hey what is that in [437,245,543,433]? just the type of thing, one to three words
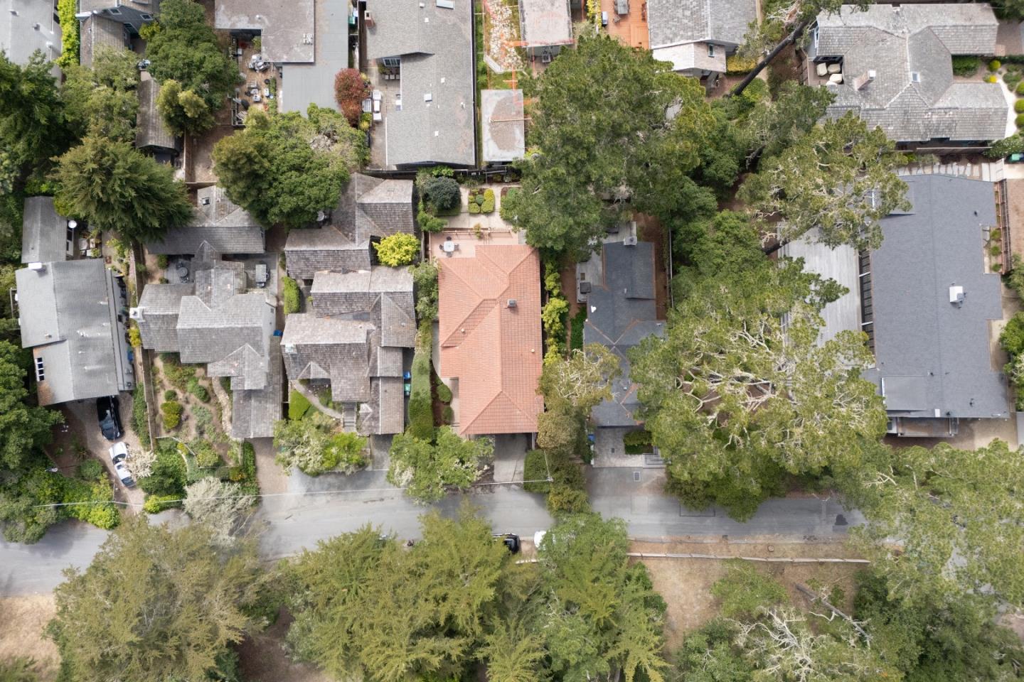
house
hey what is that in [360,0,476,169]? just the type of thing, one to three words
house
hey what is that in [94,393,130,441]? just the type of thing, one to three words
car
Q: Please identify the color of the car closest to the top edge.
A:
black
